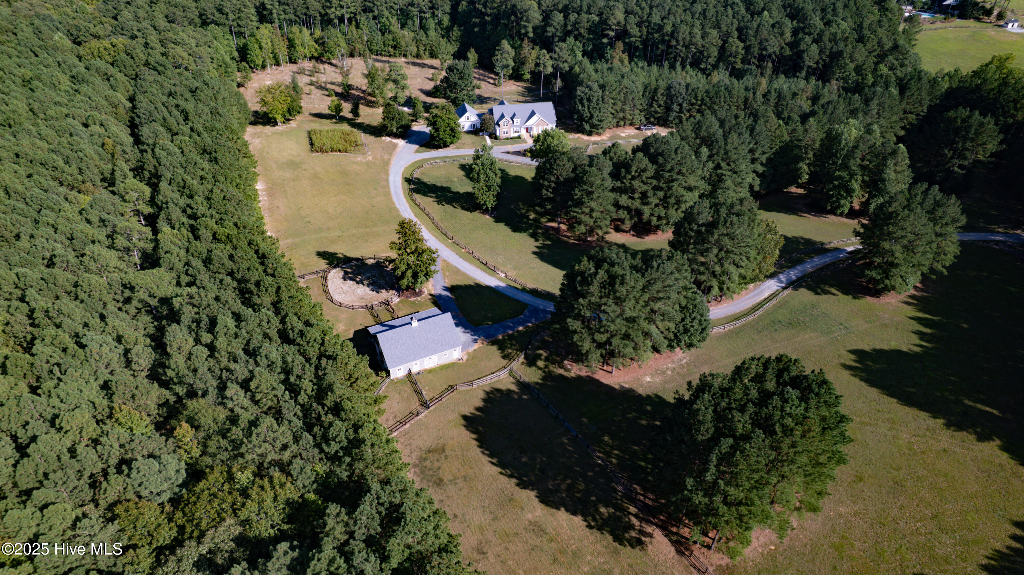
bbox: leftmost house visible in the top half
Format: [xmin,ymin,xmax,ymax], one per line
[456,99,556,139]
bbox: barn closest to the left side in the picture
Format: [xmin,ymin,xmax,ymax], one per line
[366,309,463,380]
